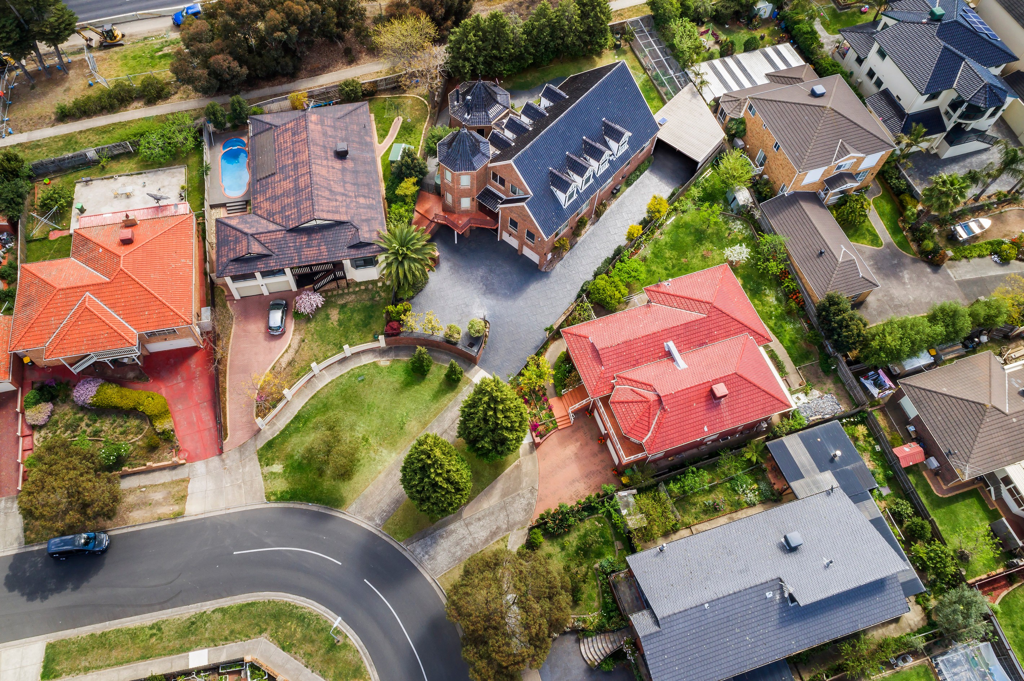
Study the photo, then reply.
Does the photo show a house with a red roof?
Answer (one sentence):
Yes, a house with a red roof is visible in the scene.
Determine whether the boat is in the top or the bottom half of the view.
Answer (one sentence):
The boat is in the top half of the image.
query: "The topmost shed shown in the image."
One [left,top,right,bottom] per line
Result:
[750,1,771,27]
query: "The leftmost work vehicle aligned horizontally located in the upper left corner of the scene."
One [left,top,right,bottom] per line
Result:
[76,26,128,50]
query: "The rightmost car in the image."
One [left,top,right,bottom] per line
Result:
[265,297,287,333]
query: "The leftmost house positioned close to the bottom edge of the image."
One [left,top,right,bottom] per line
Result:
[581,486,922,681]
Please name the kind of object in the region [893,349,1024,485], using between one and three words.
house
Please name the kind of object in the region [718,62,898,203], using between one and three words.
house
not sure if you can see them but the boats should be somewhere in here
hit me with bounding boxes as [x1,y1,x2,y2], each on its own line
[951,218,994,241]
